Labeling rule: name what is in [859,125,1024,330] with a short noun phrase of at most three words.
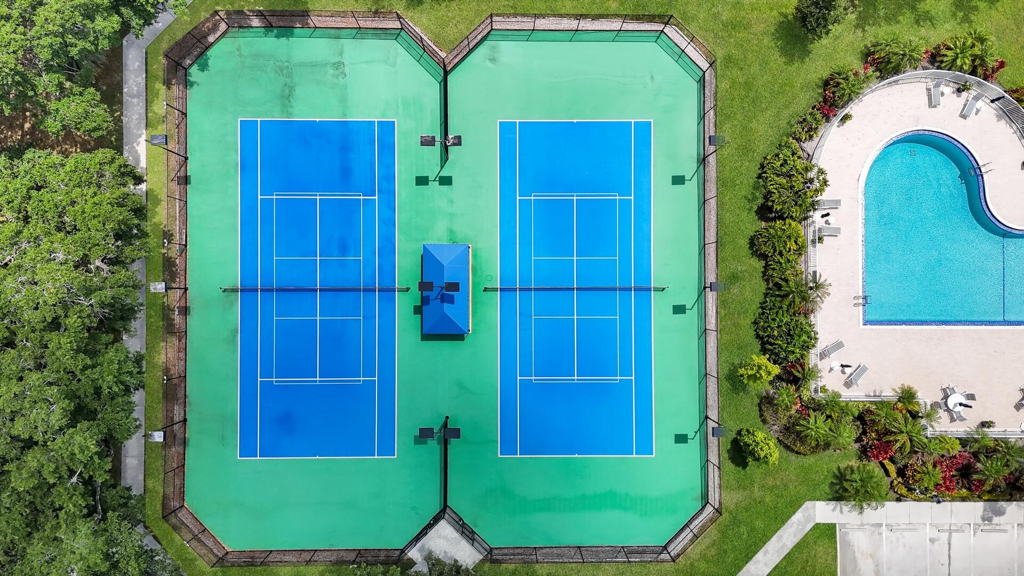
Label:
swimming pool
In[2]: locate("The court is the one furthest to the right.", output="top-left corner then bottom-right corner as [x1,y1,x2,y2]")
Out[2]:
[447,30,708,547]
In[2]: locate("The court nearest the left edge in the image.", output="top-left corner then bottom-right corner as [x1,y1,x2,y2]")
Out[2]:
[184,27,447,551]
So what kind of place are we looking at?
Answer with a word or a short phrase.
sports ground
